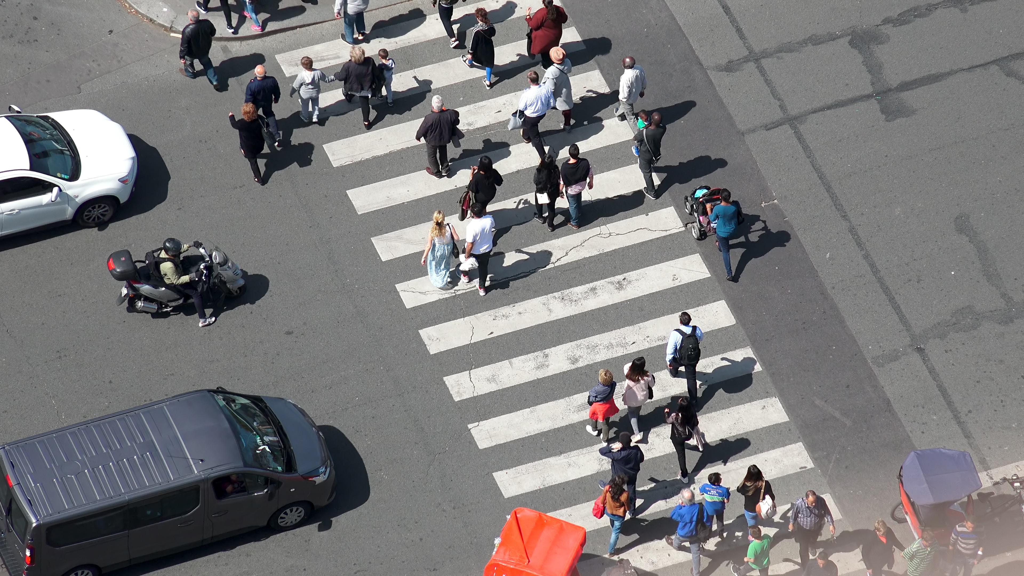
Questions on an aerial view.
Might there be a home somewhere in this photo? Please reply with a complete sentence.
No, there's no home here.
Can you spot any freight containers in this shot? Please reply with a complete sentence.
No, the photo shows no freight container.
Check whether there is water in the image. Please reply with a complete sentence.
No, no water is visible.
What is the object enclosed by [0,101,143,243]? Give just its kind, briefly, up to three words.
car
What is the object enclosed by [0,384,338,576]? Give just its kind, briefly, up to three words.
vehicle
